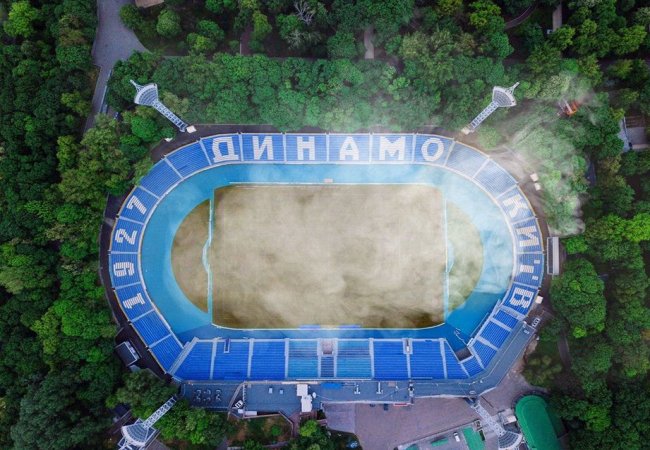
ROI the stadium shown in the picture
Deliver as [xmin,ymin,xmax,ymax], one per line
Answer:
[105,129,548,435]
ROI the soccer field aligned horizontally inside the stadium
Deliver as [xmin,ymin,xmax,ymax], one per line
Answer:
[171,185,484,329]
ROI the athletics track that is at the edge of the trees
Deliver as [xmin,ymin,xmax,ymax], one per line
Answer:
[143,163,513,363]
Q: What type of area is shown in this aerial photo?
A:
sports ground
